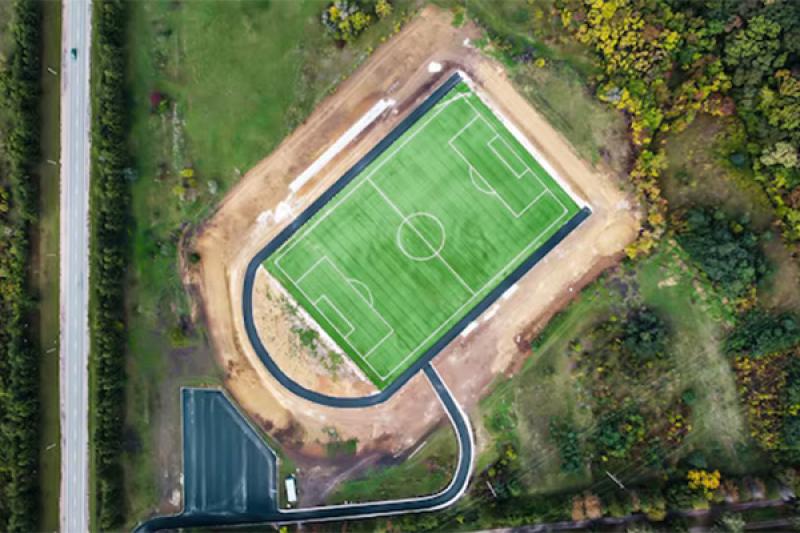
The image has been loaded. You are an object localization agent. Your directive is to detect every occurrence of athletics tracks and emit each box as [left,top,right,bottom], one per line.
[242,73,591,408]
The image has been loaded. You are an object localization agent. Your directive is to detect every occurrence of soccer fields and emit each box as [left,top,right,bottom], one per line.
[263,80,580,391]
